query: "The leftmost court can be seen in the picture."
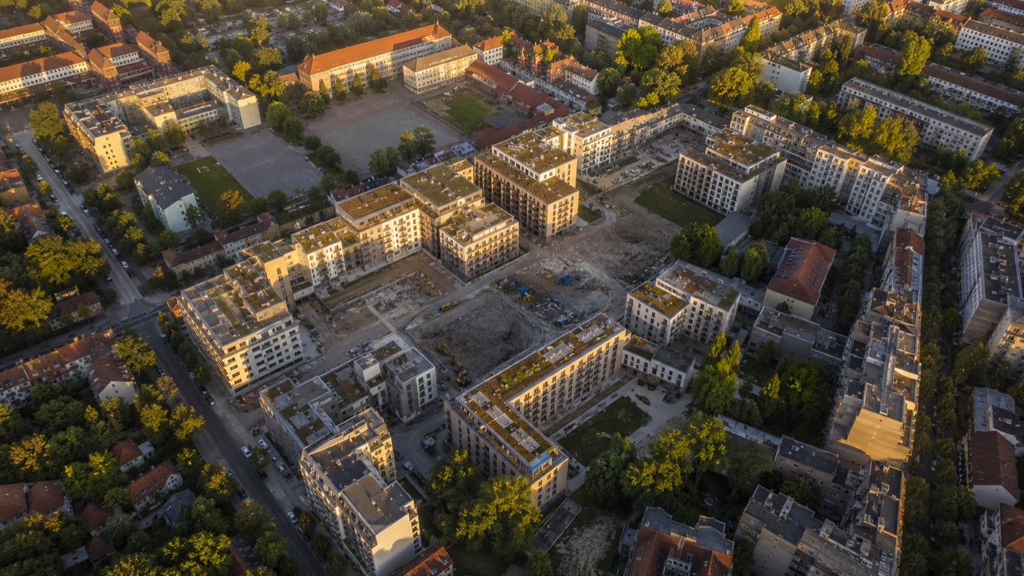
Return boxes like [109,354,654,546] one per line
[207,130,317,195]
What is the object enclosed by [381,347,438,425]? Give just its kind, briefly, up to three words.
building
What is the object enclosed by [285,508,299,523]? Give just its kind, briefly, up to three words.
car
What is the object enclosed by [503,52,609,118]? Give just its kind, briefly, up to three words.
house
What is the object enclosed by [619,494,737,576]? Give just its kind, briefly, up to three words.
house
